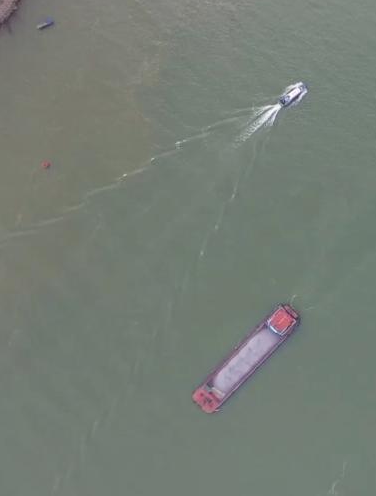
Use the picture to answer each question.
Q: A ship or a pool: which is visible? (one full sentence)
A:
It is a ship that can be seen here.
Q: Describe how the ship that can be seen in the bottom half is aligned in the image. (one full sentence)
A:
Seen from above, the ship that can be seen in the bottom half lies on a diagonal.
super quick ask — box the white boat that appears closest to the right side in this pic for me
[279,85,306,104]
